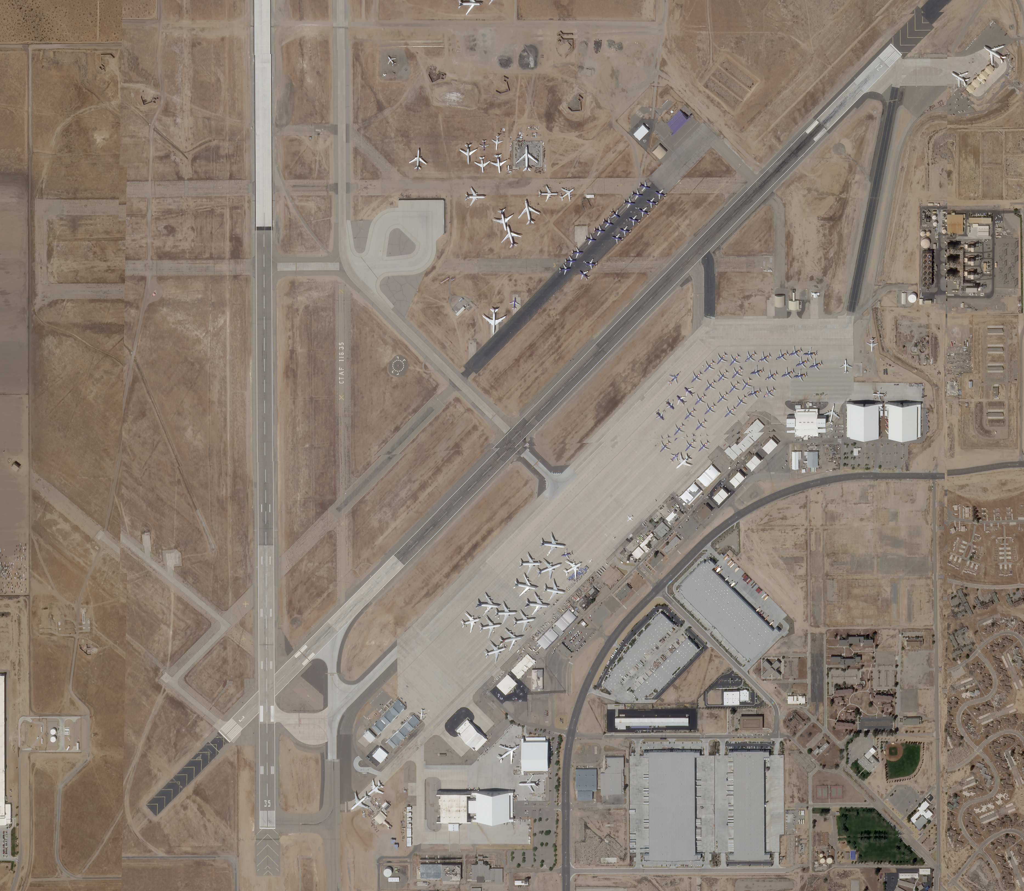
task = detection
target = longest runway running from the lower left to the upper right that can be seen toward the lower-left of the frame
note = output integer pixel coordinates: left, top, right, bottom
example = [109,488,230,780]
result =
[221,620,338,740]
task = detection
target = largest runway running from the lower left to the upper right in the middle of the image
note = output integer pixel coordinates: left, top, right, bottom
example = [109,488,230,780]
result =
[255,45,900,705]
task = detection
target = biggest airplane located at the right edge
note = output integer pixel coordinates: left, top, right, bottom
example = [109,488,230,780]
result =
[984,46,1007,64]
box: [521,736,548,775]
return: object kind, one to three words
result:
hangar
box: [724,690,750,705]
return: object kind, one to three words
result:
building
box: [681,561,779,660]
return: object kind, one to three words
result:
building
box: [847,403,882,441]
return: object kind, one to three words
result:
hangar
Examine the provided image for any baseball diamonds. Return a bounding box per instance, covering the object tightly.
[883,742,921,779]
